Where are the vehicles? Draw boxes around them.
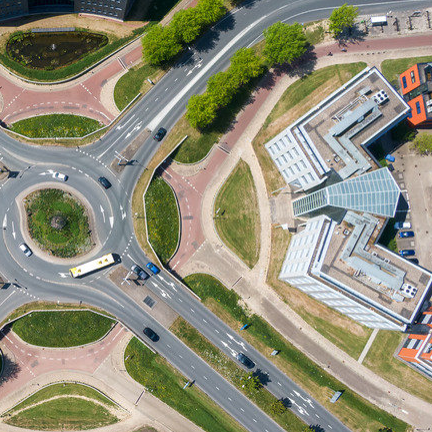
[403,256,423,267]
[69,251,120,279]
[50,171,69,182]
[392,221,414,229]
[130,264,148,280]
[396,230,416,238]
[97,175,113,190]
[398,248,417,257]
[145,261,162,275]
[142,325,161,342]
[18,242,34,258]
[236,351,256,369]
[152,126,168,143]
